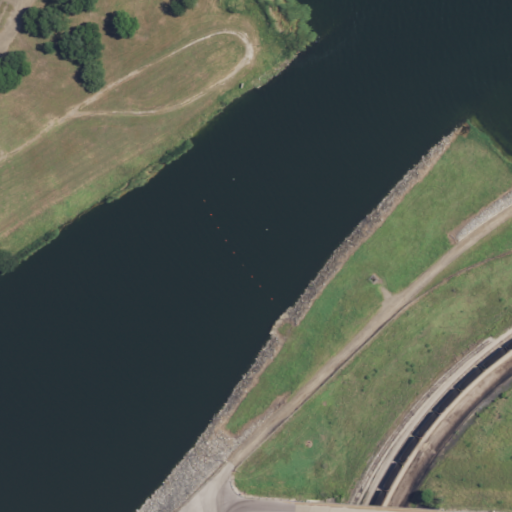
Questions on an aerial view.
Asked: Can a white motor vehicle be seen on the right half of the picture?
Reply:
No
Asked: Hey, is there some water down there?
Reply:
Yes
